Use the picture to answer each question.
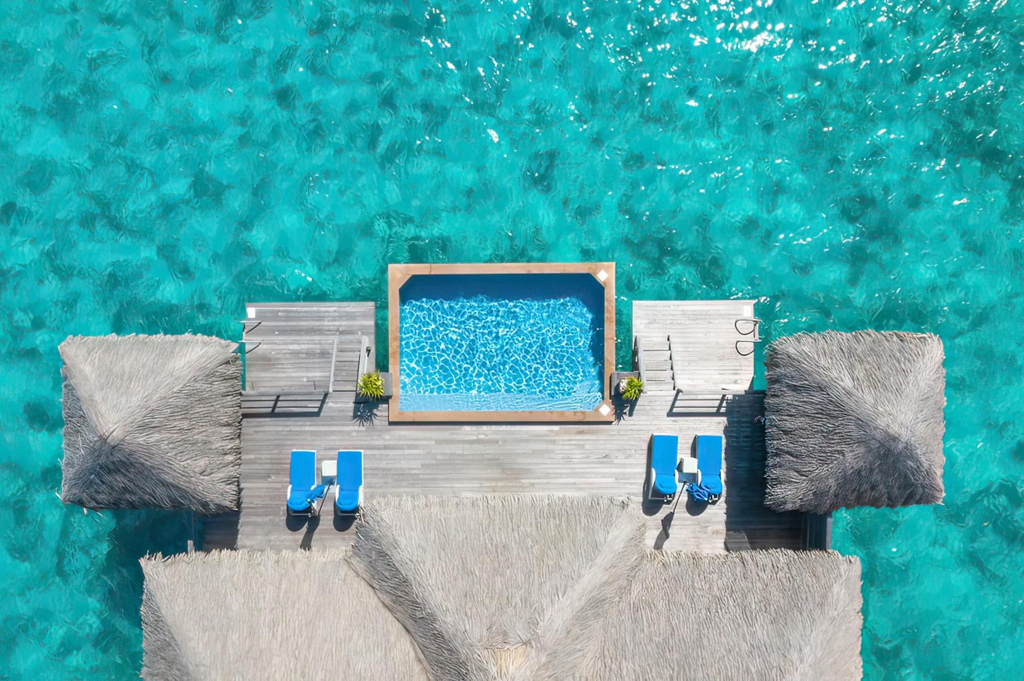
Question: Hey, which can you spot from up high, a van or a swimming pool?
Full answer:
There is a swimming pool in the scene.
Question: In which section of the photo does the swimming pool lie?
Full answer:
The swimming pool sits in the center section of the image.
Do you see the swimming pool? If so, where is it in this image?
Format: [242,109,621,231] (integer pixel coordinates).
[388,263,615,421]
